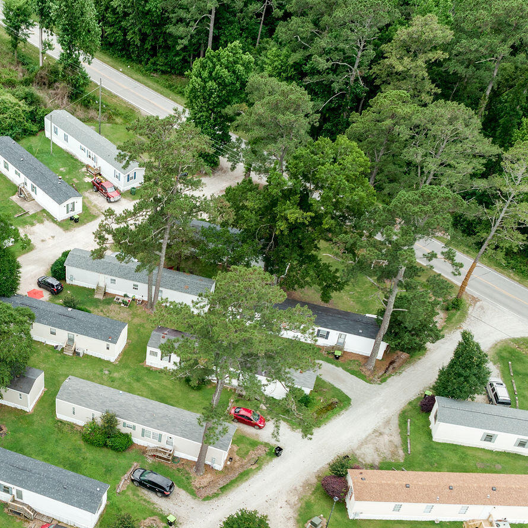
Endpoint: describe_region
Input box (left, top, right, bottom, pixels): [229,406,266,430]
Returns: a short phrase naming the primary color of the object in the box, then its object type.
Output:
red car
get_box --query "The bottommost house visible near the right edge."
[344,470,528,524]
